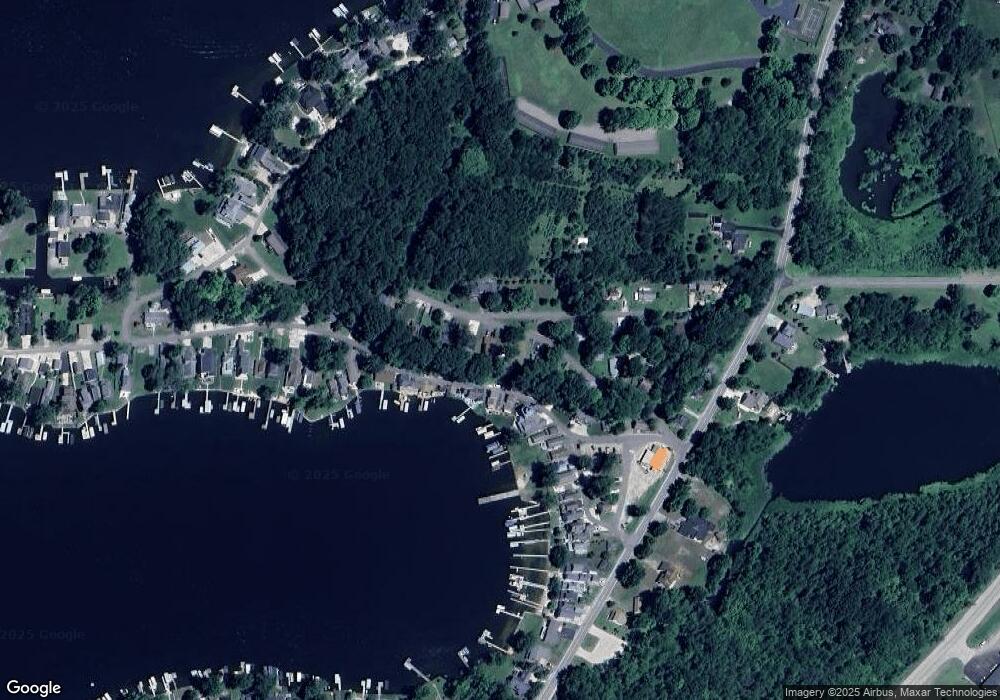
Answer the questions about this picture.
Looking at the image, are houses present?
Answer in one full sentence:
Yes, there's a house down there.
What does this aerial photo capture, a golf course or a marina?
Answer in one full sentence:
It's a marina.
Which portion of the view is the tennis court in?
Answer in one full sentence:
Look in the top right portion of the view to spot the tennis court.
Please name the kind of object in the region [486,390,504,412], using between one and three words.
house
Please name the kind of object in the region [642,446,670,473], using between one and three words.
building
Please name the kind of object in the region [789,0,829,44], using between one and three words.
tennis court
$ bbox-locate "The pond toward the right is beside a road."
[839,72,966,220]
